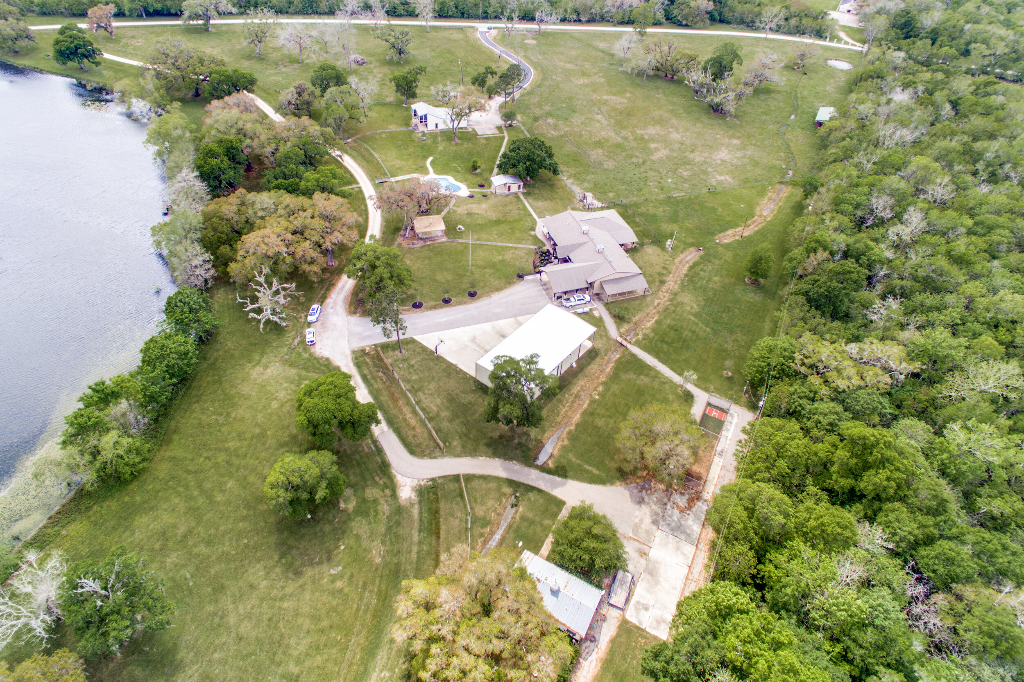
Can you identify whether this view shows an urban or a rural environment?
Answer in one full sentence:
This place is rural.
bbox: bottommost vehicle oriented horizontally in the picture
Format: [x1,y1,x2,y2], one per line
[562,293,593,308]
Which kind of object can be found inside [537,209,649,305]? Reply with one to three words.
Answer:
house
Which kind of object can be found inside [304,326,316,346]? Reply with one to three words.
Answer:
vehicle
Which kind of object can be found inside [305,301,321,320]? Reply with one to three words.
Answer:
car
